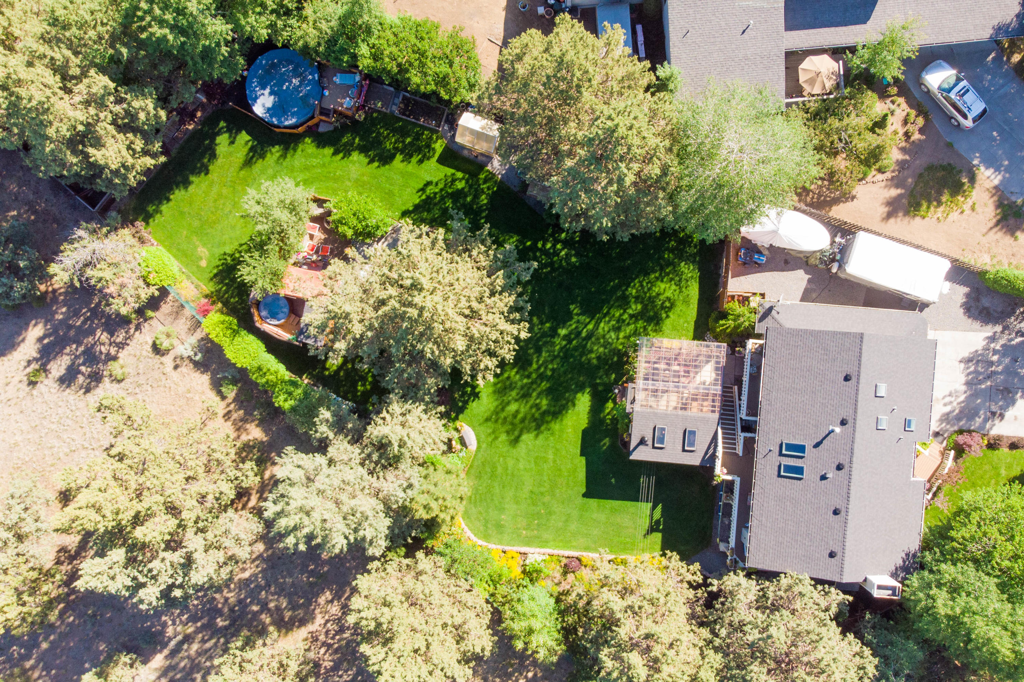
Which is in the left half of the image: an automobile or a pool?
pool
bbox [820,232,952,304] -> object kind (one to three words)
trailer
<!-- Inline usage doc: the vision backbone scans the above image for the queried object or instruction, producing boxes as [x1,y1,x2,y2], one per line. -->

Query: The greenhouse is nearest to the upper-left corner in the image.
[455,112,499,160]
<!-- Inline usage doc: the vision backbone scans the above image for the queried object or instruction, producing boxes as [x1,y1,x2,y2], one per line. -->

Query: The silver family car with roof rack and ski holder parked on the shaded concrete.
[925,60,993,131]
